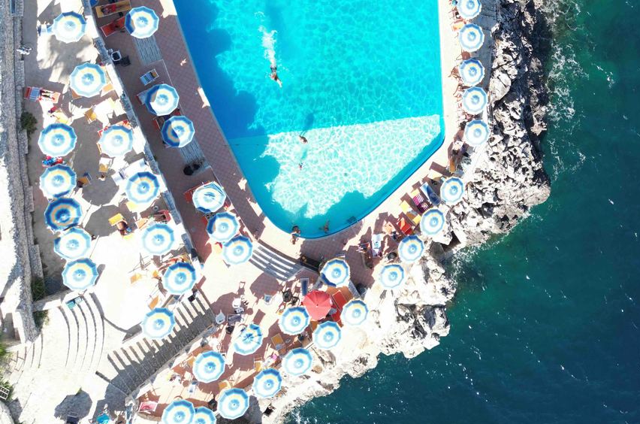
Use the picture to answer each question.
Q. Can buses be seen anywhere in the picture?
No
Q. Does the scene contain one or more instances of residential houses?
No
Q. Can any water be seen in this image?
Yes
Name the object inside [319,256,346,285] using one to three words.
umbrella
